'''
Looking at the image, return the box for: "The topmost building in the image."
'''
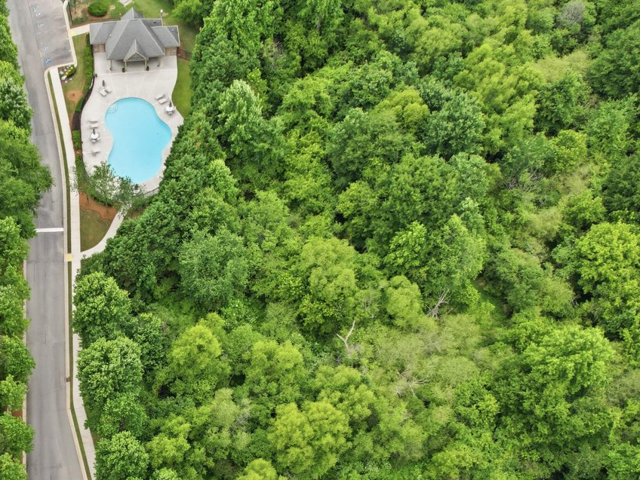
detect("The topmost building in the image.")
[81,0,180,74]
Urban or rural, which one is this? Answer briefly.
rural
